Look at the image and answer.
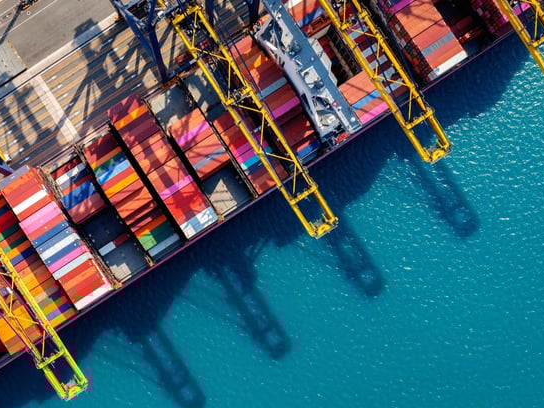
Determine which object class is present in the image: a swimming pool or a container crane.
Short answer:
container crane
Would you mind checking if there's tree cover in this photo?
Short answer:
No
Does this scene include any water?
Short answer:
Yes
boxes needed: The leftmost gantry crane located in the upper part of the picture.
[104,0,338,239]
